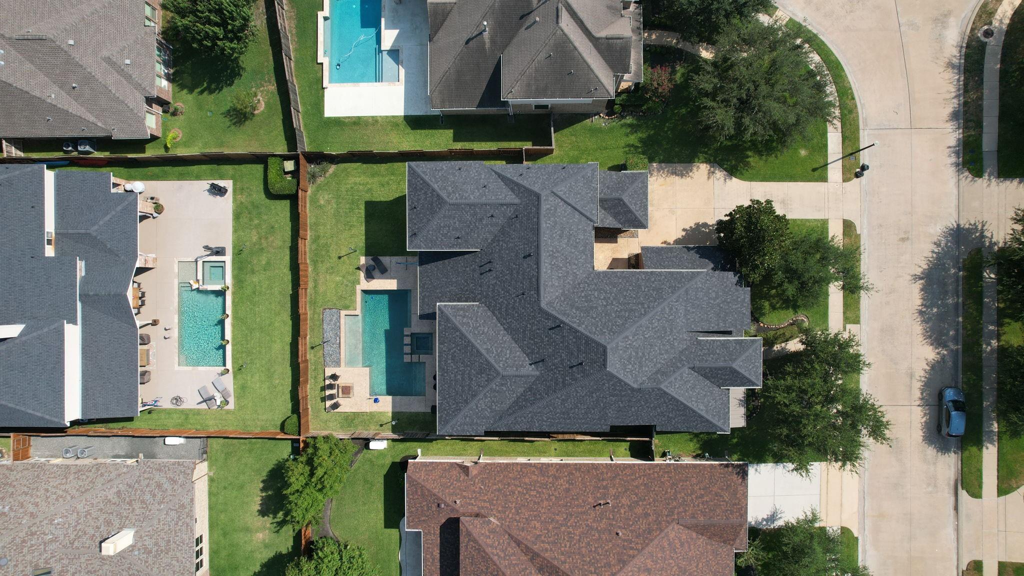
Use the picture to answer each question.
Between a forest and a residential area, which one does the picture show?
residential area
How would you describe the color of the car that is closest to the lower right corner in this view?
blue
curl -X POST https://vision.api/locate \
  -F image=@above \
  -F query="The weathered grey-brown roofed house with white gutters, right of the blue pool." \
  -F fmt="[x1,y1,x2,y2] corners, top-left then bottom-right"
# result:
[426,0,644,116]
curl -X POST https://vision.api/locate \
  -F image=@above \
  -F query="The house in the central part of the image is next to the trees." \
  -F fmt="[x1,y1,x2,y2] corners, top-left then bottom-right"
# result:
[406,160,763,435]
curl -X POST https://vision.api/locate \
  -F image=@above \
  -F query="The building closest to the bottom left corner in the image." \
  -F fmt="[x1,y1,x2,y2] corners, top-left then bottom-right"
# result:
[0,449,212,576]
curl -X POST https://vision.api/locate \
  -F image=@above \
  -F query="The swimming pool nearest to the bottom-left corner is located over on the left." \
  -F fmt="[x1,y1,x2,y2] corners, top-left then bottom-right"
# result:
[175,250,232,370]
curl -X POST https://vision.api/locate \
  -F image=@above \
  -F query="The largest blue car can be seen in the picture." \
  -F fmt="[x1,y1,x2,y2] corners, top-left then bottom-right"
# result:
[937,385,970,438]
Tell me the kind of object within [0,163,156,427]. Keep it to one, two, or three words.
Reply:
house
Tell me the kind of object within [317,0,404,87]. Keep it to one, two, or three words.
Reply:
swimming pool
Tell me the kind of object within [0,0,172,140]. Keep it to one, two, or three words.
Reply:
house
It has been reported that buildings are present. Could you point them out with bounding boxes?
[406,160,763,435]
[0,0,172,140]
[404,447,749,576]
[426,0,644,116]
[0,449,212,576]
[0,163,156,427]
